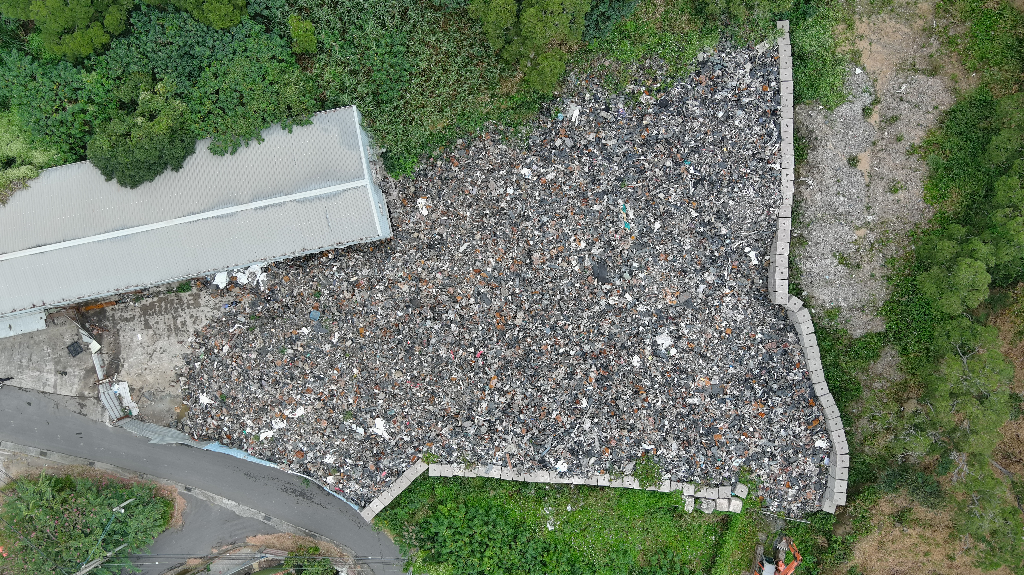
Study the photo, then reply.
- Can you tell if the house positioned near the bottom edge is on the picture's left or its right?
left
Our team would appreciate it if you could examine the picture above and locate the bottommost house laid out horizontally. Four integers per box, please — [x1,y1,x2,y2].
[228,546,294,575]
